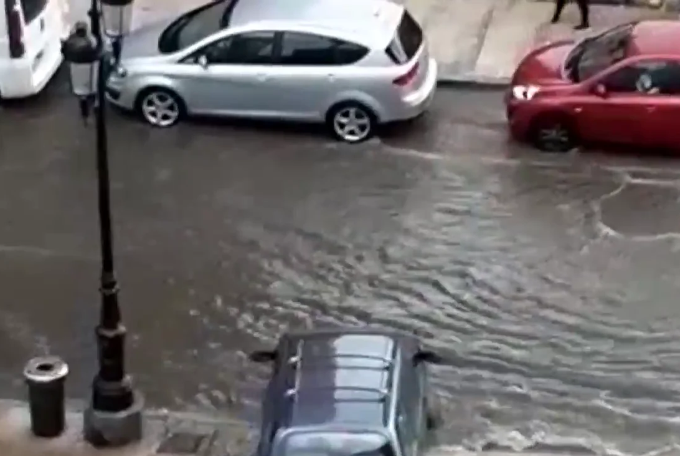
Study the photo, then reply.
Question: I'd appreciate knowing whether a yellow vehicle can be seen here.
No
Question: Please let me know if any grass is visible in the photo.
No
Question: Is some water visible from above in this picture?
Yes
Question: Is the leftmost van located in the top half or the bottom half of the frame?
top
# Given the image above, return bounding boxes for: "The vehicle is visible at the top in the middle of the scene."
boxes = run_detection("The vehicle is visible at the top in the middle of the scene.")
[110,0,435,140]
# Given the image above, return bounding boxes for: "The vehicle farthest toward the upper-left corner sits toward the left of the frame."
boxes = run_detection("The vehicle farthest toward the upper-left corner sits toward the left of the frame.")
[0,0,68,104]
